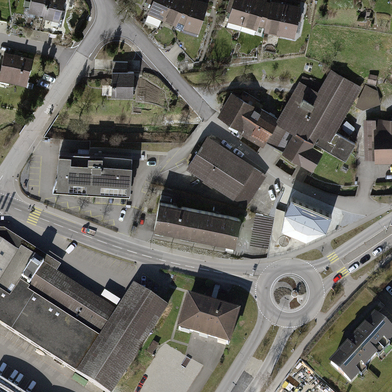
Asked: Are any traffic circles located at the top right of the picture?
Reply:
No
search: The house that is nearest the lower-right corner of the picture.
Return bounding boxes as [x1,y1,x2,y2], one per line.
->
[330,308,392,380]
